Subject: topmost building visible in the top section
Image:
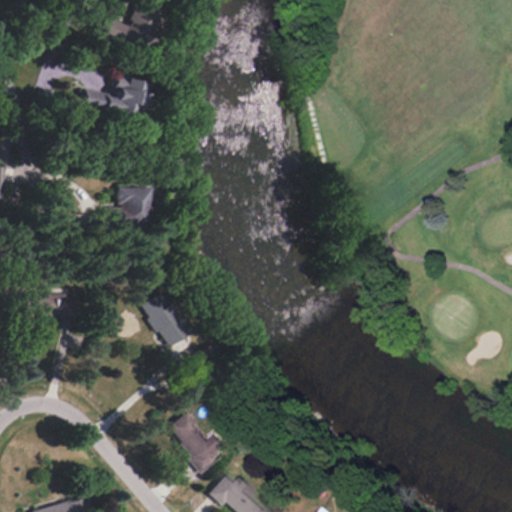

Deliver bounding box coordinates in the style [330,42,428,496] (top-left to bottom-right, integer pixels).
[110,12,150,38]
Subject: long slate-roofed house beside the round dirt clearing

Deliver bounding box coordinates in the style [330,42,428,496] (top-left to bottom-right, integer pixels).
[140,298,192,352]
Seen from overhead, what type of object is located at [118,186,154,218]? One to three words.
house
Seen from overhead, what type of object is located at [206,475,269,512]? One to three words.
house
